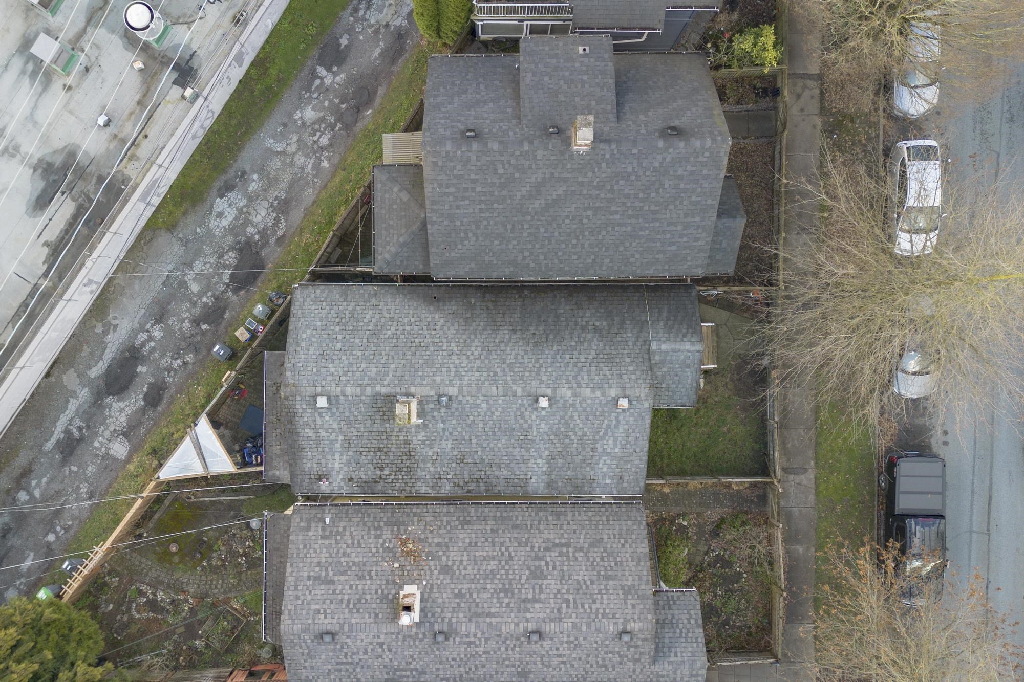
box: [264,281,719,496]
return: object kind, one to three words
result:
house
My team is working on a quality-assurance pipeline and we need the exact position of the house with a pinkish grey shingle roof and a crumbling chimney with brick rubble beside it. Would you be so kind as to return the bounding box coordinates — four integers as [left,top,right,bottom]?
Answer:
[263,496,707,682]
